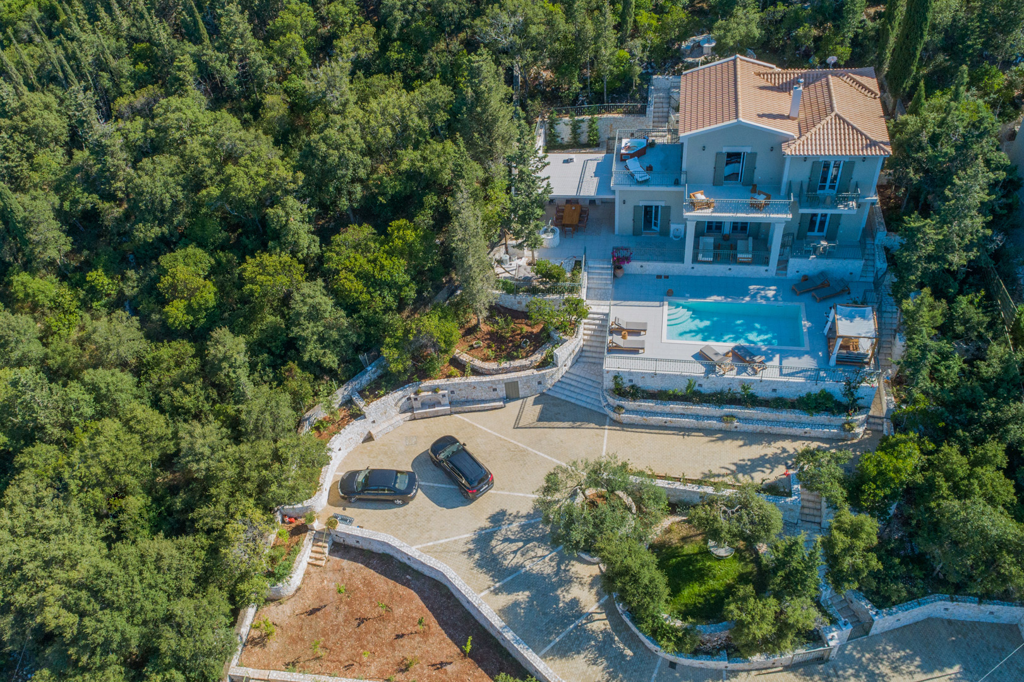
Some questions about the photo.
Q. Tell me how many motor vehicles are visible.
2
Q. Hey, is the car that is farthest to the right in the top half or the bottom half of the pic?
bottom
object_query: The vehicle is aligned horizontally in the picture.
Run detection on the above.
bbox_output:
[336,465,421,506]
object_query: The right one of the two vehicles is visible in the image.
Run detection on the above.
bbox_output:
[429,438,496,501]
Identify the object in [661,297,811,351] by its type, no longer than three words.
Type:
swimming pool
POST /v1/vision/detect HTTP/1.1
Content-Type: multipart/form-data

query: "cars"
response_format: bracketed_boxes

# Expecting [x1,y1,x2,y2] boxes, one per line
[429,438,496,501]
[336,465,421,506]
